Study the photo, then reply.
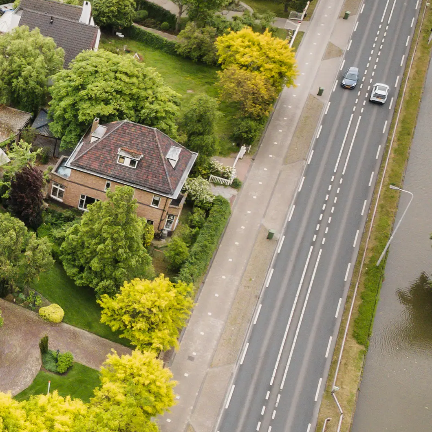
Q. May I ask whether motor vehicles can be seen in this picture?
Yes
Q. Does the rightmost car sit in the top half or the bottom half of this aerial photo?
top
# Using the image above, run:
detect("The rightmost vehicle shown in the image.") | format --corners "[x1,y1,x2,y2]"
[370,84,391,105]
